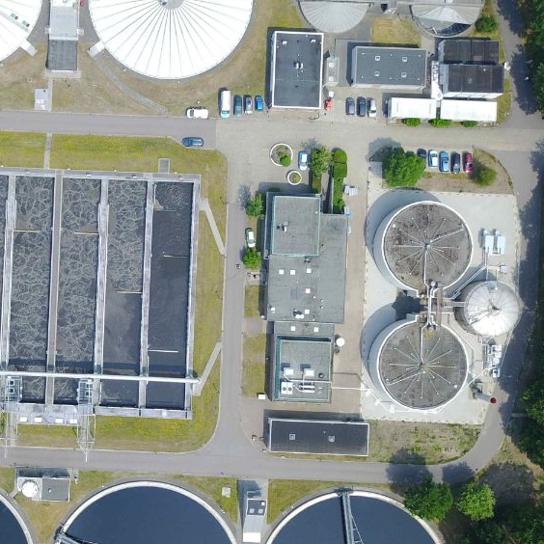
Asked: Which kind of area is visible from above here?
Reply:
industrial area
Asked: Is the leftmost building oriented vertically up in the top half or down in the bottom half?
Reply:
top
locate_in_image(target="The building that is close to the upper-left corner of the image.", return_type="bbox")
[49,0,79,72]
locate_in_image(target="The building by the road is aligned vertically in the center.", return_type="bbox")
[261,192,347,403]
